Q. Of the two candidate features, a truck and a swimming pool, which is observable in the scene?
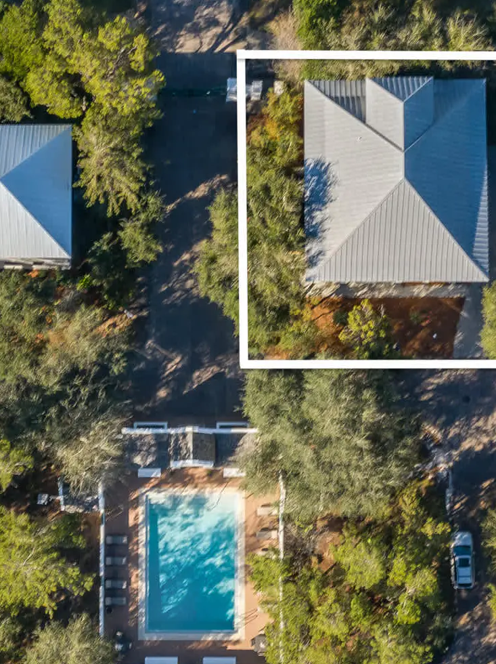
swimming pool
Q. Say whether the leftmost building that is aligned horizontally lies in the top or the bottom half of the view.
bottom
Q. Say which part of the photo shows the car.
bottom right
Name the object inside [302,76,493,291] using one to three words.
house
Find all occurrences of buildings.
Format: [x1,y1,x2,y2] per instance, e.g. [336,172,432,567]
[122,424,255,471]
[0,123,74,280]
[302,76,493,291]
